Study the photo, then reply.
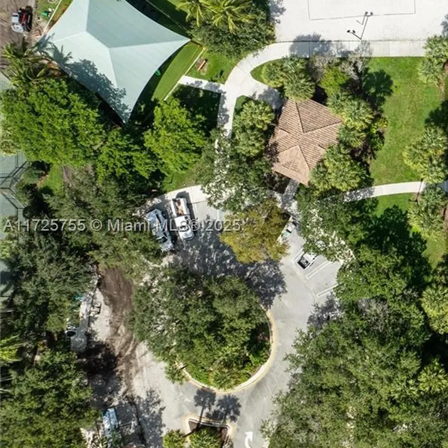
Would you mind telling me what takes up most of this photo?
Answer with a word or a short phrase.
trees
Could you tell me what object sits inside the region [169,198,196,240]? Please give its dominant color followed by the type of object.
white truck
